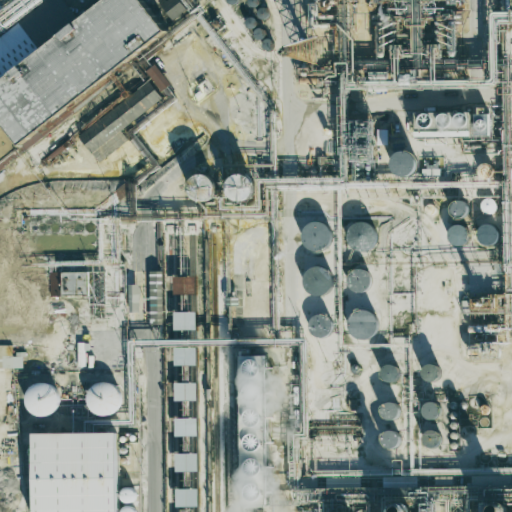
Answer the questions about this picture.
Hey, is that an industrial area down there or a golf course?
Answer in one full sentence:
This image shows an industrial area.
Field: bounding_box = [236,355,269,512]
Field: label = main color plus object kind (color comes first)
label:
white cooling tower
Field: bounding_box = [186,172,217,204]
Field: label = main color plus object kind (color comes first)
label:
white storage tank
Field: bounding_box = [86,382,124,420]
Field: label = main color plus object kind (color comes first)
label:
white storage tank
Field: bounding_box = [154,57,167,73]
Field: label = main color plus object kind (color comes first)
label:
white vehicle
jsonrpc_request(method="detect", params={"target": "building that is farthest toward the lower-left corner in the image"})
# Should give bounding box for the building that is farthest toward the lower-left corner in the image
[29,434,120,512]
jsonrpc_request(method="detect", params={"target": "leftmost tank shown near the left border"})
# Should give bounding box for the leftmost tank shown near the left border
[23,381,62,420]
